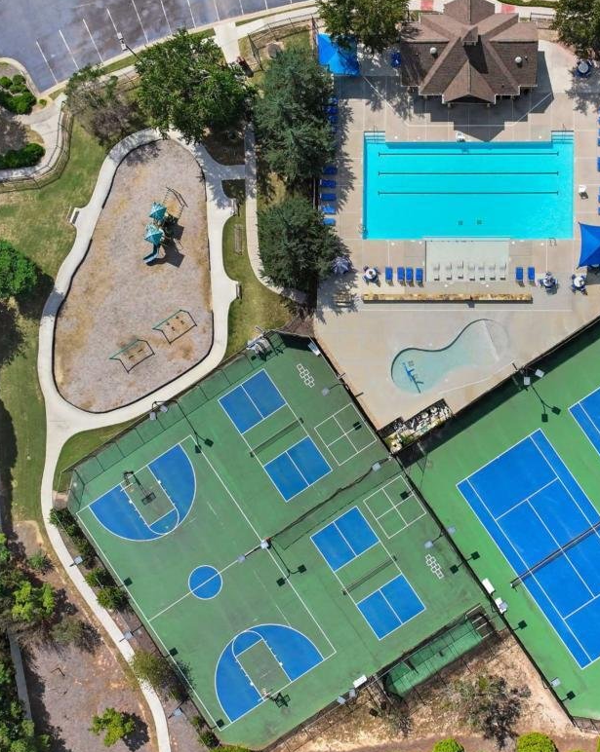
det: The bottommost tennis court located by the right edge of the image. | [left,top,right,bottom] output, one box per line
[456,427,600,670]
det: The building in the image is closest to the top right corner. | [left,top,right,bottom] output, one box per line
[400,0,542,111]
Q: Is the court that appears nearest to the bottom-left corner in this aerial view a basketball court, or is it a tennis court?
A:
basketball court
